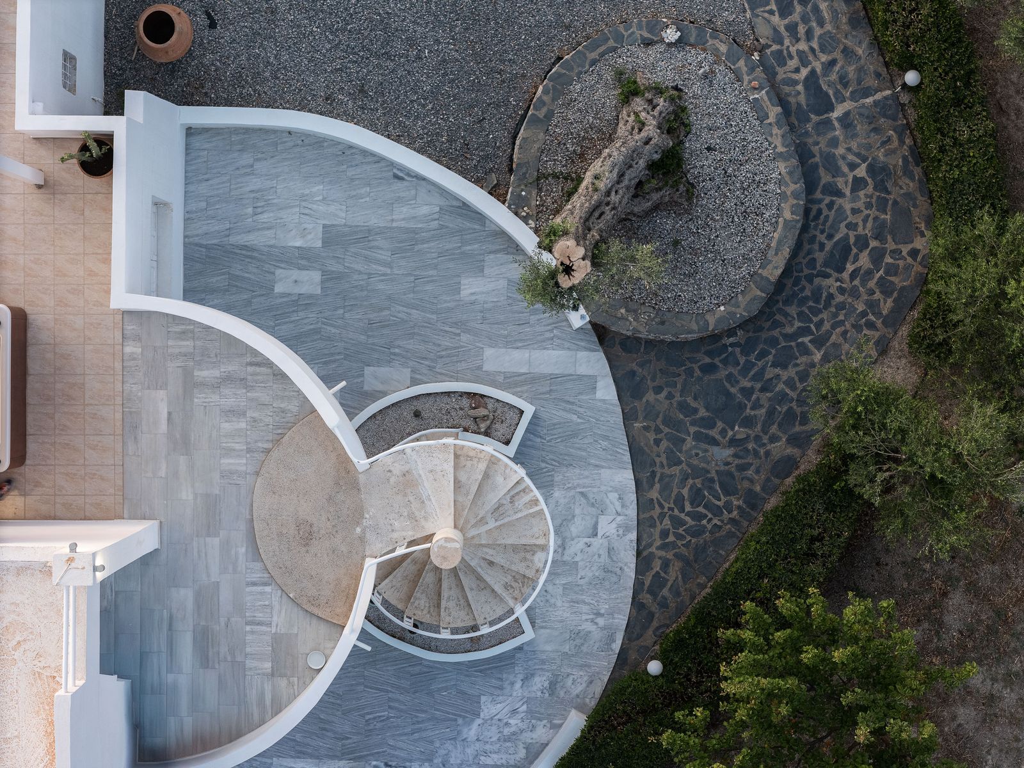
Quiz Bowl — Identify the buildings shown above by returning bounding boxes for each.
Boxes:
[0,521,158,768]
